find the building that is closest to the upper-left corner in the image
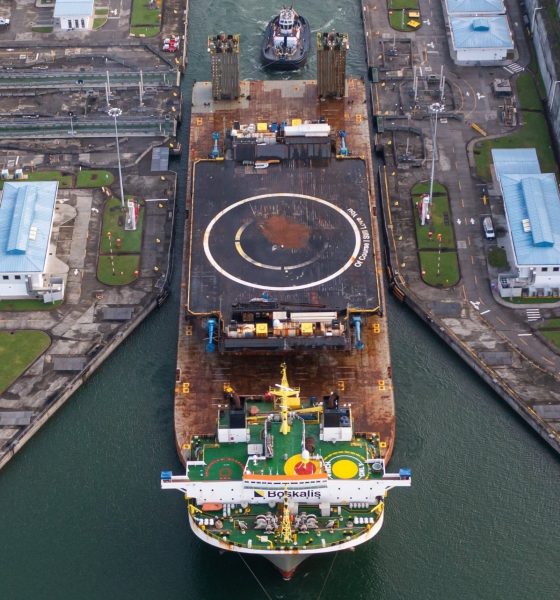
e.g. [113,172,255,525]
[51,0,97,29]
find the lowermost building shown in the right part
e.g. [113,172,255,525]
[490,150,560,301]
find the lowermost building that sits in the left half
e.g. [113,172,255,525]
[0,181,59,305]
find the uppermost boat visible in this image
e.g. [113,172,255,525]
[257,4,310,77]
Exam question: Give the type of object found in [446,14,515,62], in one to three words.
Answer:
building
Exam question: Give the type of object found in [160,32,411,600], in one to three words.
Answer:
ship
